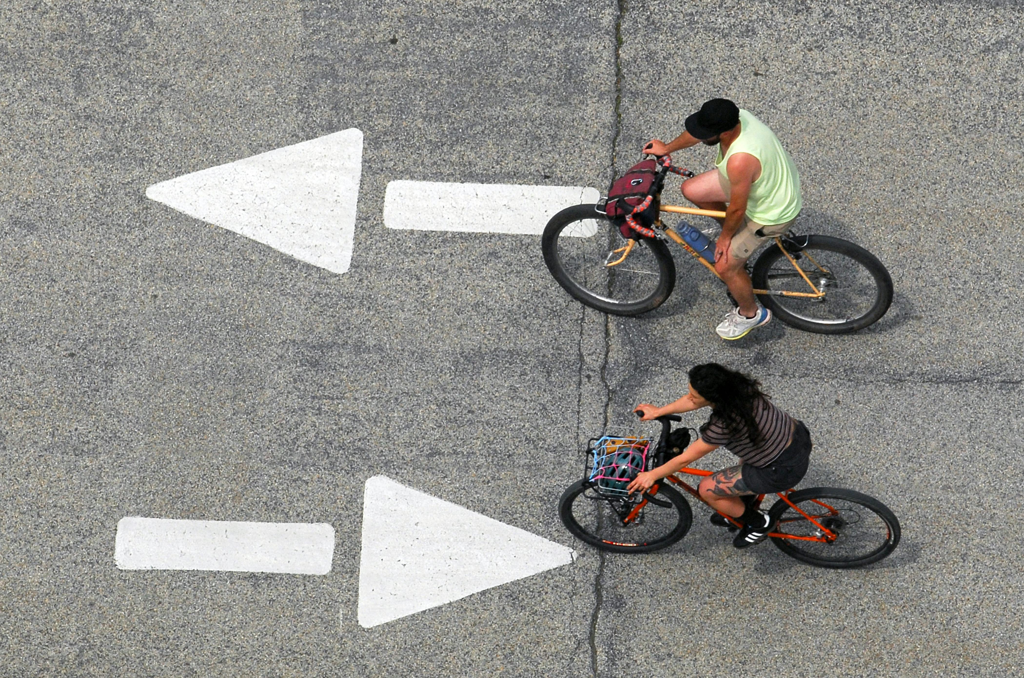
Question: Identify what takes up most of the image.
paved ground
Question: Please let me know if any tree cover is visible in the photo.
No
